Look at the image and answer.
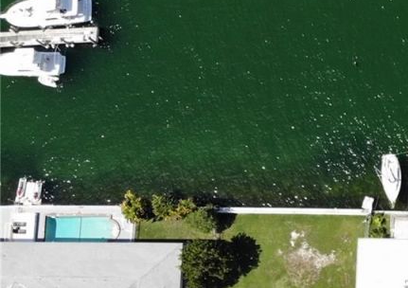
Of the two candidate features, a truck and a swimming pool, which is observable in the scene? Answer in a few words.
swimming pool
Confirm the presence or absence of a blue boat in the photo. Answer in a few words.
No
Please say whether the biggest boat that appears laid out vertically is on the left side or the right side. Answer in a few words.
right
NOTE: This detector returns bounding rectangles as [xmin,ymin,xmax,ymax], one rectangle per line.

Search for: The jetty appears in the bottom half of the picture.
[15,178,44,206]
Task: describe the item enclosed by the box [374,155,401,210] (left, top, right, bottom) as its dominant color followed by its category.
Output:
white boat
